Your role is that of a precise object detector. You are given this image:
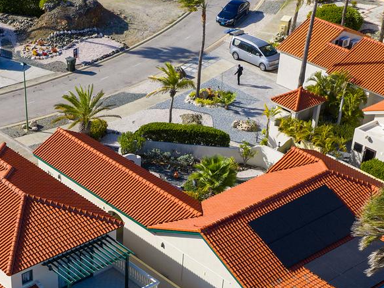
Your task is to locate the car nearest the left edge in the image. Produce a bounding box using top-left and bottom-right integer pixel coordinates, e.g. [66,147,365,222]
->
[218,0,251,23]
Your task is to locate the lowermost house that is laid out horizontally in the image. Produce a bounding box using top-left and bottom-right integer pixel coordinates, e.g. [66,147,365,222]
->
[31,128,384,288]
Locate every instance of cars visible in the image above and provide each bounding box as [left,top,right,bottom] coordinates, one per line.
[218,0,251,23]
[225,28,282,71]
